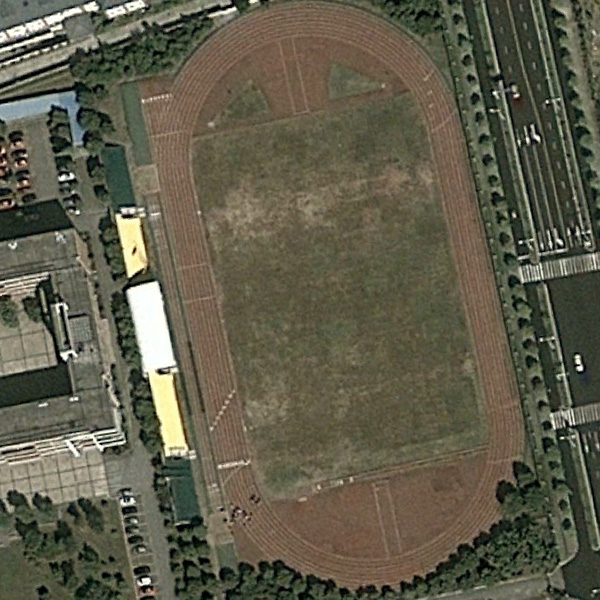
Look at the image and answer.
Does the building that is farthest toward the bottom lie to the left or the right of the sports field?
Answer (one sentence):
Looking at the picture, you'll find the building that is farthest toward the bottom to the left of the sports field.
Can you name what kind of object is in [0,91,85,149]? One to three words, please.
shed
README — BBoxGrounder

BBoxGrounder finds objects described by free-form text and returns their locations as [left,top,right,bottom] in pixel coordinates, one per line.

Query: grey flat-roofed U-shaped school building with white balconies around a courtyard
[0,227,130,473]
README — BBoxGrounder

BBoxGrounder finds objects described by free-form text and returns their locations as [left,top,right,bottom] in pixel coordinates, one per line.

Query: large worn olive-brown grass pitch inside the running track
[193,94,489,501]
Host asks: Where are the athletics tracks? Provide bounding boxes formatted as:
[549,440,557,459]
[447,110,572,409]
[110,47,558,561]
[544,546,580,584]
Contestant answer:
[141,0,527,592]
